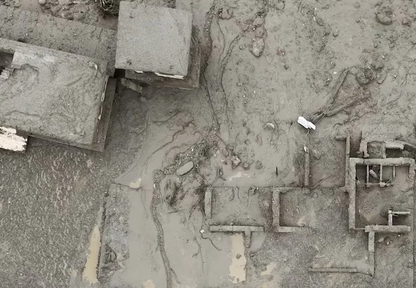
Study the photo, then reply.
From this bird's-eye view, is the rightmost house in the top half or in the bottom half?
bottom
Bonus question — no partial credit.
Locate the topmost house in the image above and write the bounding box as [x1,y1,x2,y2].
[115,1,201,92]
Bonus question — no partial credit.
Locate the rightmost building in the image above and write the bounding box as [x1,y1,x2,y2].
[310,136,416,277]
